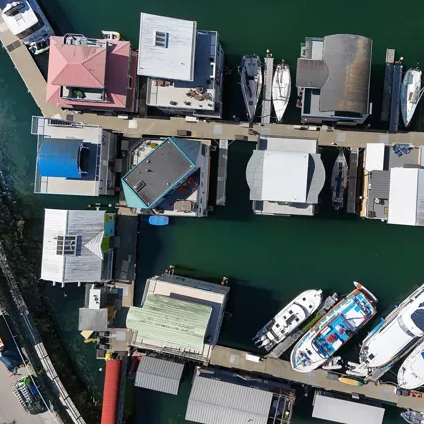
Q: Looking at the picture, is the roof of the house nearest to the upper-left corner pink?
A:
Yes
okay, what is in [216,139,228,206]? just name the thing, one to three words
pier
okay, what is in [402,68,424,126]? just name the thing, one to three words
boat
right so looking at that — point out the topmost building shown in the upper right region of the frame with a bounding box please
[297,34,372,123]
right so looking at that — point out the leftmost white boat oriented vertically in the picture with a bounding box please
[272,64,291,121]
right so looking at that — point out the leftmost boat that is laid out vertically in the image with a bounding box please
[241,54,263,121]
